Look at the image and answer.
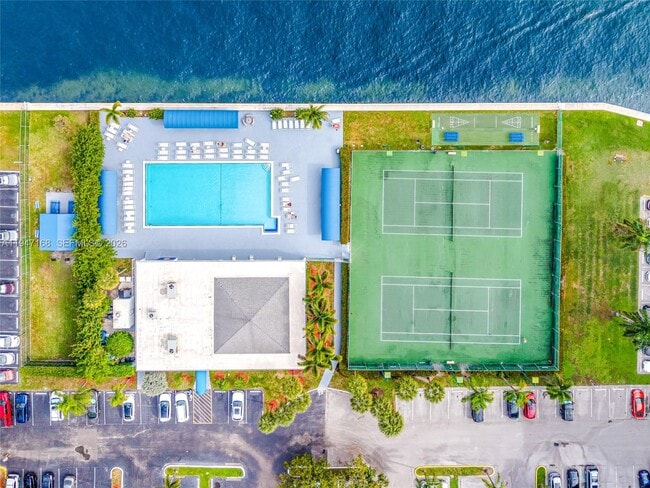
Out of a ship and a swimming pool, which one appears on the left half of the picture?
swimming pool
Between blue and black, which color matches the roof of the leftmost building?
blue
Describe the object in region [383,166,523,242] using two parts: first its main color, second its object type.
green tennis court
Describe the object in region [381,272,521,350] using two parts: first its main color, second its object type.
green tennis court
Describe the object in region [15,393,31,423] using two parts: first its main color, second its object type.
blue car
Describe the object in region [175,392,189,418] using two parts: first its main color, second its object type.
white car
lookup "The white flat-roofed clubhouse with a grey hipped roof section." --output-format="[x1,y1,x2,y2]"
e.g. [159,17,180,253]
[135,258,306,371]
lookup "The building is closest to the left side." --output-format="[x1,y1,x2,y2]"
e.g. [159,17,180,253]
[40,213,81,251]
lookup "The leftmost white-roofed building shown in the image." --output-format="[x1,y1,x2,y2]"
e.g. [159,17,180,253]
[113,295,135,328]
